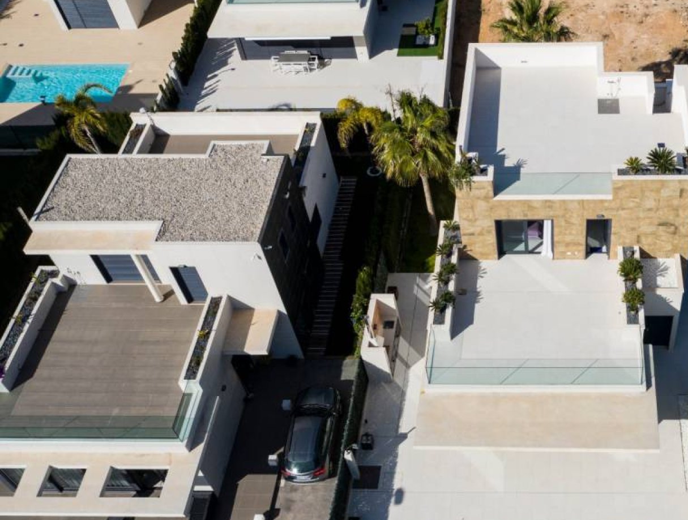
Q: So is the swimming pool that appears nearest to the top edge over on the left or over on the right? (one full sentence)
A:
You can find the swimming pool that appears nearest to the top edge on the left side of the picture.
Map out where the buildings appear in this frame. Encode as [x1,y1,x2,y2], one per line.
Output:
[44,0,152,29]
[0,112,341,520]
[413,42,688,453]
[209,0,391,60]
